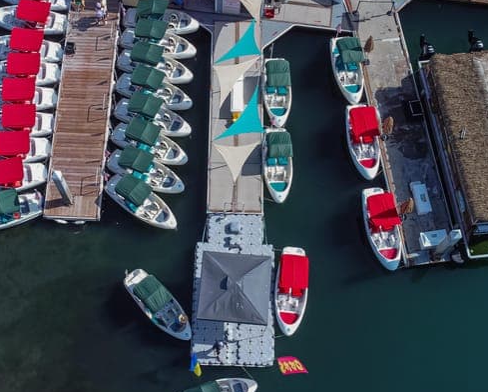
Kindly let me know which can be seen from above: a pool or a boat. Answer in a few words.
boat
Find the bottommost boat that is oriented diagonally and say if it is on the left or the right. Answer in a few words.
left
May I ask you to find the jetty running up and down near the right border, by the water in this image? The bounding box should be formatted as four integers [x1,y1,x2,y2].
[352,0,466,271]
